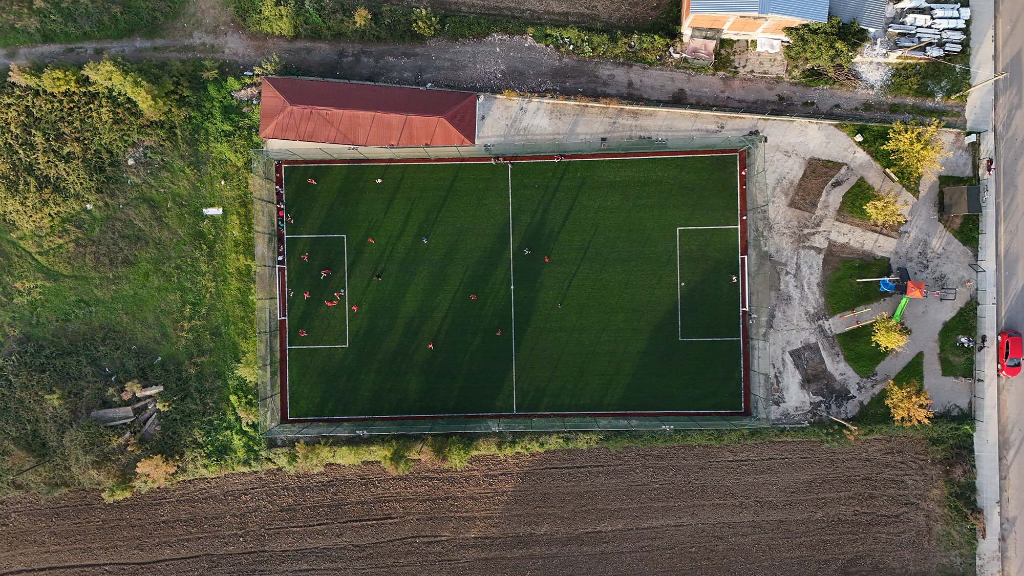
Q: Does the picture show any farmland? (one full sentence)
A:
Yes, farmland shows up in the scene.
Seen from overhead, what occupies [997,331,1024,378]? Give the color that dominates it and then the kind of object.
red car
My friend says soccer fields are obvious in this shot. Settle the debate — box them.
[275,149,751,423]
